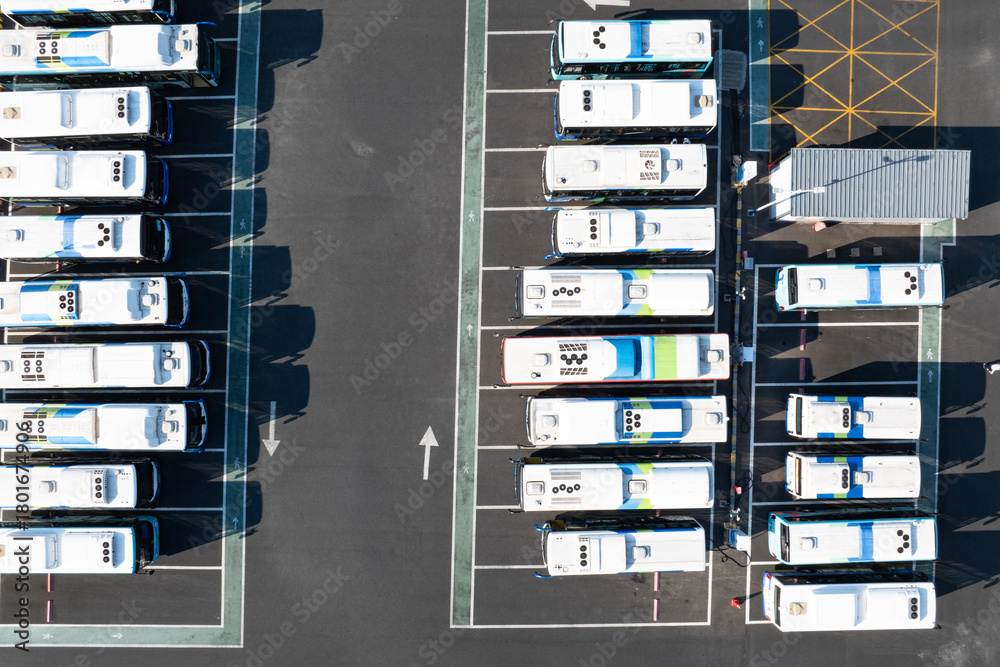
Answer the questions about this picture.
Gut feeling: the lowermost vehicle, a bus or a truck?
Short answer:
bus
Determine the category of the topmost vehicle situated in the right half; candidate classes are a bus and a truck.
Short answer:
bus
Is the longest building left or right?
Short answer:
right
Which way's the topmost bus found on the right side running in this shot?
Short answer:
from left to right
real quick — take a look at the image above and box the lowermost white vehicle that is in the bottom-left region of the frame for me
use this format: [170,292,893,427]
[0,513,162,574]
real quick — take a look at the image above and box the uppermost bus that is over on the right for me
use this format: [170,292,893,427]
[548,20,712,79]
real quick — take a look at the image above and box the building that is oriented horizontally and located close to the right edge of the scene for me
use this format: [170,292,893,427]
[770,146,974,226]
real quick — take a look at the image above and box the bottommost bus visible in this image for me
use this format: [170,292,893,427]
[765,565,938,632]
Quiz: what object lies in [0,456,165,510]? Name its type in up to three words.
bus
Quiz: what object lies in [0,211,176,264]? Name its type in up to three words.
bus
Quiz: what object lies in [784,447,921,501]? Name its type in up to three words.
vehicle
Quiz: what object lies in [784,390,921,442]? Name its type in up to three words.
vehicle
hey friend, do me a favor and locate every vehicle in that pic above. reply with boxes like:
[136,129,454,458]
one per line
[0,273,189,329]
[514,266,714,321]
[0,211,176,264]
[0,86,174,150]
[0,148,172,207]
[540,144,707,200]
[514,454,715,513]
[542,207,716,259]
[494,333,730,389]
[778,261,942,311]
[521,390,728,447]
[0,513,162,574]
[784,447,921,501]
[771,507,938,564]
[765,565,938,632]
[784,390,921,442]
[2,0,181,28]
[532,515,706,577]
[0,398,207,451]
[550,79,717,141]
[0,335,211,392]
[0,22,219,91]
[0,456,165,510]
[548,20,712,79]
